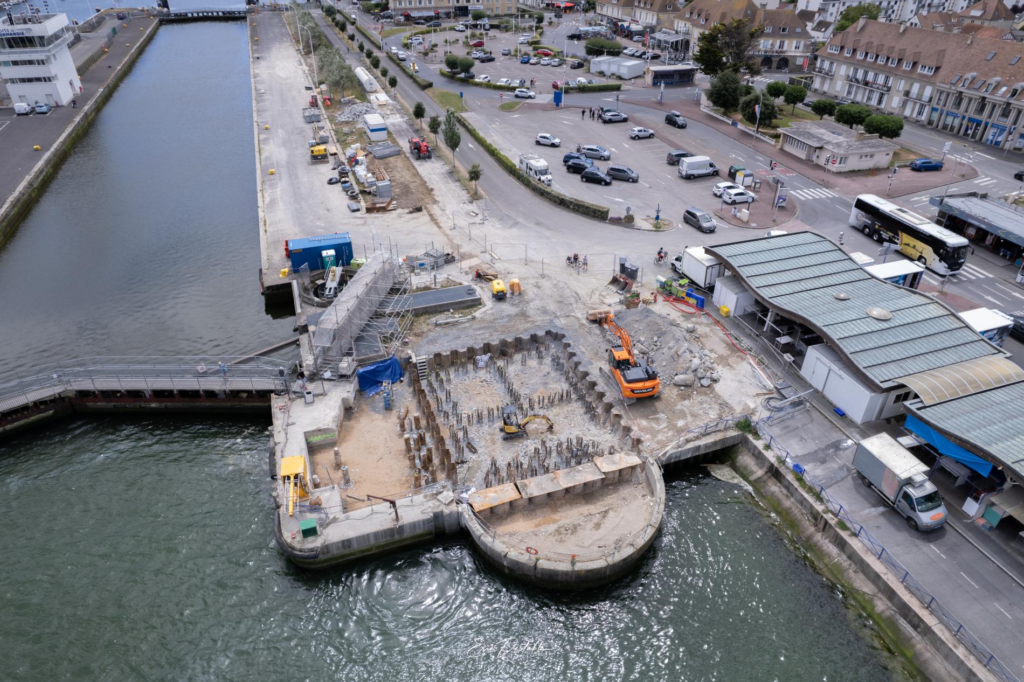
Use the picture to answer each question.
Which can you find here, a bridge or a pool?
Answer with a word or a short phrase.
bridge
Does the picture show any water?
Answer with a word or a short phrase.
Yes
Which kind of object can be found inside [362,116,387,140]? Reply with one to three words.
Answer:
building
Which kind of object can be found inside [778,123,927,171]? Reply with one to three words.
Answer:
house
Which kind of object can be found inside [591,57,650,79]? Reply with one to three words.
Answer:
building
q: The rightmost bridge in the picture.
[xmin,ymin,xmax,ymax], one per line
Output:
[309,242,435,398]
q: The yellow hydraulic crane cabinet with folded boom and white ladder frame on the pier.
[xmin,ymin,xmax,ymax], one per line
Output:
[274,455,313,520]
